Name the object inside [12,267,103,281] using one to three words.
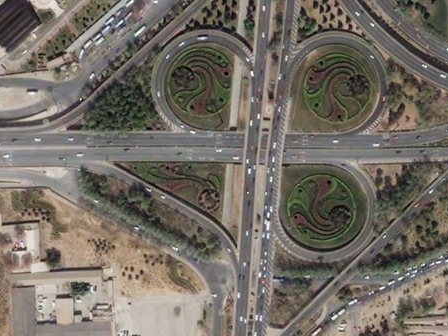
building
